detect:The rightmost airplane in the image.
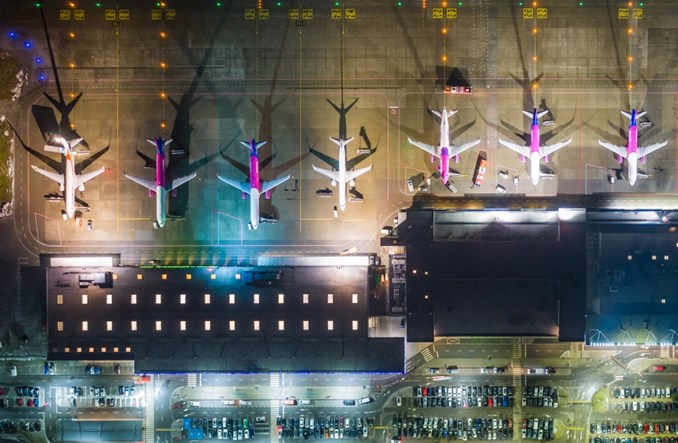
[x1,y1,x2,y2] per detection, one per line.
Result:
[595,107,672,187]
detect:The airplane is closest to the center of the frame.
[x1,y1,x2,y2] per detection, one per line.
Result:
[312,134,372,211]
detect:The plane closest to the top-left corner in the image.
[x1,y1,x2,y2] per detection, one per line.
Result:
[28,140,104,219]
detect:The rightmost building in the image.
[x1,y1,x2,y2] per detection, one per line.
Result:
[585,210,678,345]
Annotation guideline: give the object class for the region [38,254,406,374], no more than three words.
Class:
building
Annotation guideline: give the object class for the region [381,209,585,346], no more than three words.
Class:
building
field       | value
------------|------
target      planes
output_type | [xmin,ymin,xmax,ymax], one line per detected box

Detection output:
[498,107,574,187]
[216,136,291,230]
[122,134,197,228]
[312,134,372,211]
[595,107,672,187]
[407,105,483,185]
[28,140,104,219]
